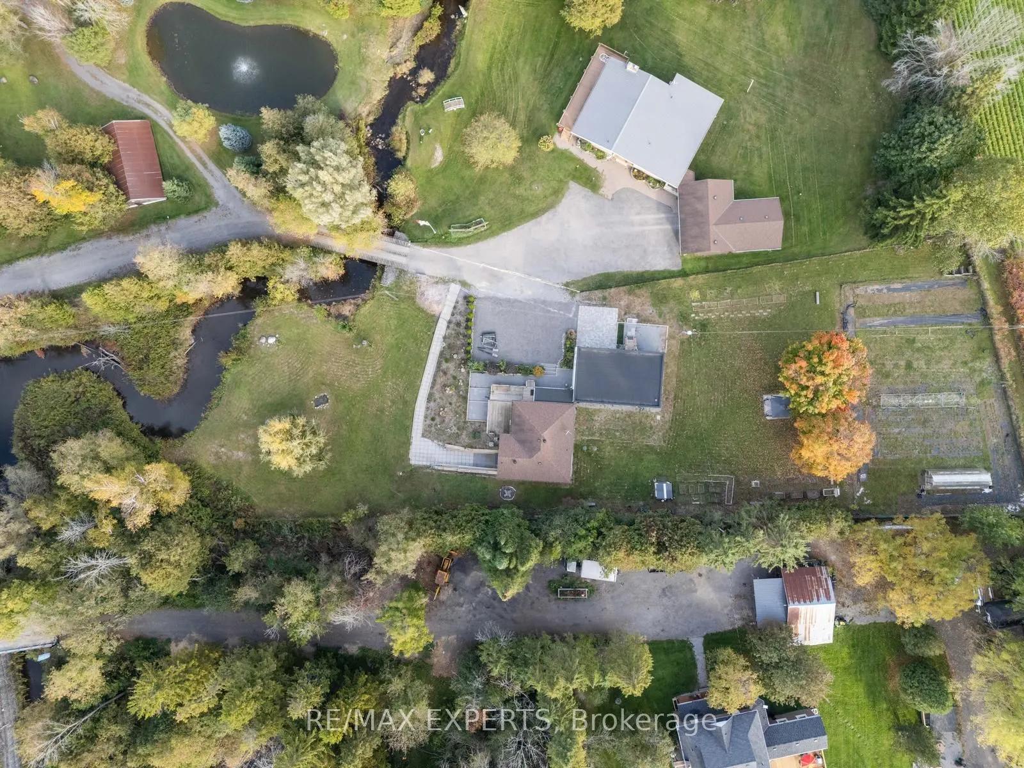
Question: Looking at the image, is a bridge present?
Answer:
Yes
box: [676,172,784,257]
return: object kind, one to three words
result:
building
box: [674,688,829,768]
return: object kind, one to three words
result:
house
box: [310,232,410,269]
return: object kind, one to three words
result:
bridge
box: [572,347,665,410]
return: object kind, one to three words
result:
building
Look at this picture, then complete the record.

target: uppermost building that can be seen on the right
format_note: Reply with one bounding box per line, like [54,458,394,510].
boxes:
[557,40,724,196]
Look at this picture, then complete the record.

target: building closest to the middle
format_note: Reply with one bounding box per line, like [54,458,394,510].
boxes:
[486,363,576,483]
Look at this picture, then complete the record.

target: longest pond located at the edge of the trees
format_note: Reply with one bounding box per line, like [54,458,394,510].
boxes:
[151,6,336,113]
